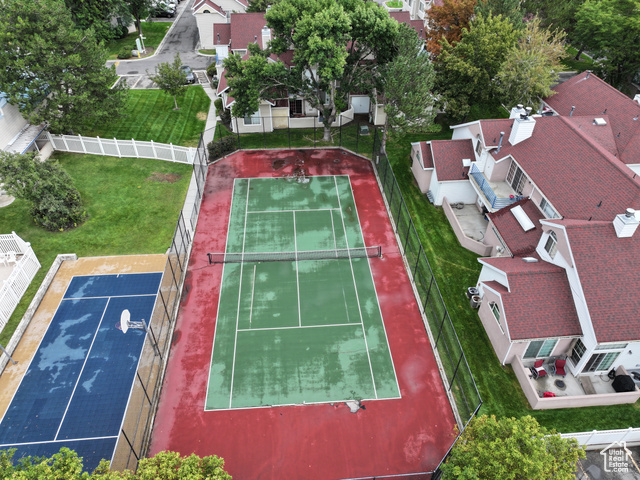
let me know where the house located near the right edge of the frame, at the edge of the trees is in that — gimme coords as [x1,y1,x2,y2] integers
[411,69,640,375]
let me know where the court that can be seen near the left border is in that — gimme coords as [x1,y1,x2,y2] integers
[0,250,186,480]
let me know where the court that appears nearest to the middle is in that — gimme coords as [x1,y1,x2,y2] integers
[141,145,463,480]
